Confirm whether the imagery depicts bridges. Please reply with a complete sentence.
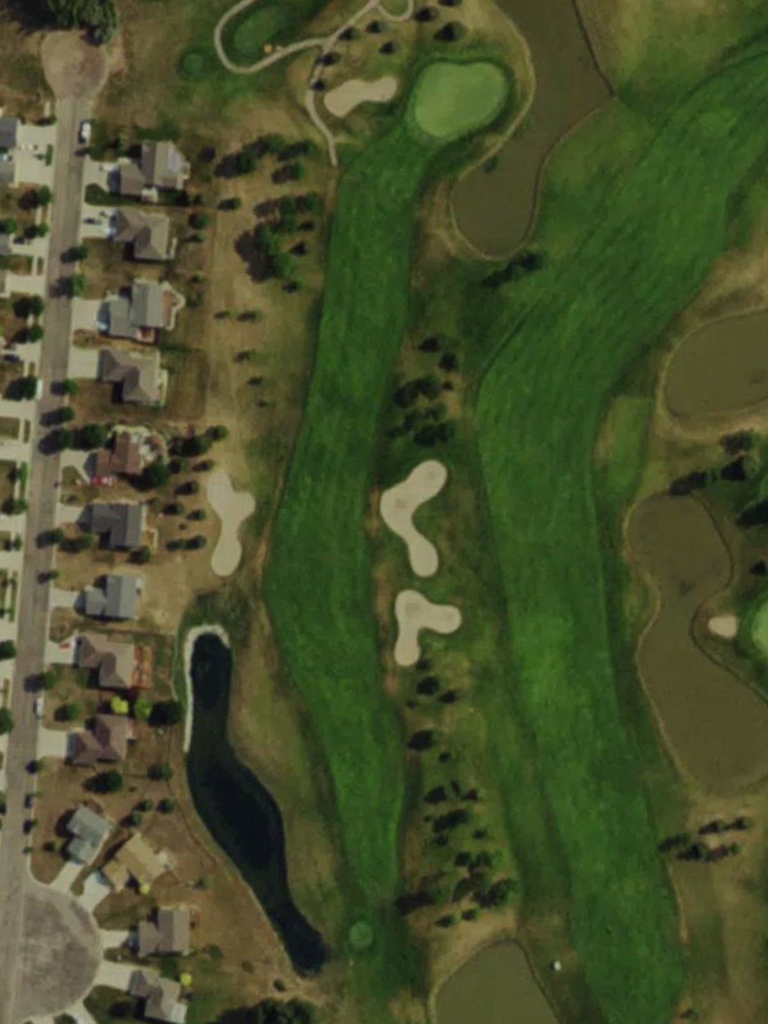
No, I can't see a single bridge in this photo.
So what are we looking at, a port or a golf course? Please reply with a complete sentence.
The area seen from above is a golf course.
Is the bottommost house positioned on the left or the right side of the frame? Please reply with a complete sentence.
The bottommost house sits on the left side.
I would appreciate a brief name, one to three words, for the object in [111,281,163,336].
house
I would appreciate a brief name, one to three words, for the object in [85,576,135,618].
house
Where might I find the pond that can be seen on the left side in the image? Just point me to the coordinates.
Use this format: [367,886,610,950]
[187,633,326,972]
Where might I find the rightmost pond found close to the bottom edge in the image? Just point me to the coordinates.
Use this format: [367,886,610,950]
[436,939,557,1024]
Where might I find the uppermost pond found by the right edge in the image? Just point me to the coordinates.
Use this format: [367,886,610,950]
[665,309,768,417]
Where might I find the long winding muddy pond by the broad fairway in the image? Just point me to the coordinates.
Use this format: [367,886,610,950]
[625,491,768,793]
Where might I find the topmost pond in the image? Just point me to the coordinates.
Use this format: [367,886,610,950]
[452,0,611,258]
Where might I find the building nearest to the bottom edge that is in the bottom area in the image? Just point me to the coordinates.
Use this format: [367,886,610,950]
[131,973,186,1024]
